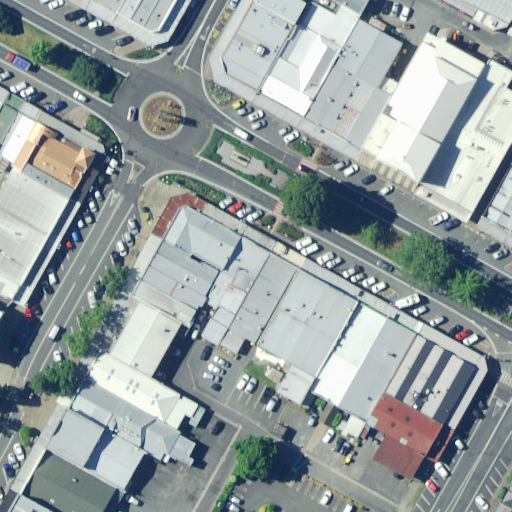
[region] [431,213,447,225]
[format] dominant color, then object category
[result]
white vehicle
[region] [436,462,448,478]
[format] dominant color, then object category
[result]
white vehicle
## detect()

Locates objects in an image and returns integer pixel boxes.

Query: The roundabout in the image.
[140,92,186,139]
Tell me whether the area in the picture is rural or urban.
urban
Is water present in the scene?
No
